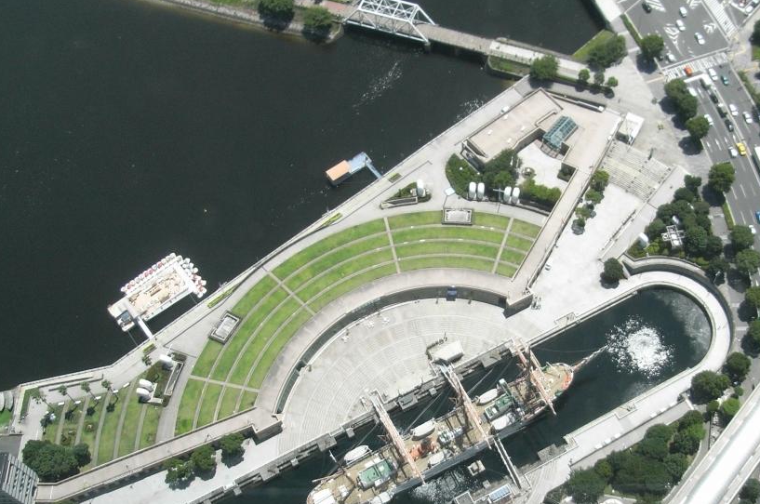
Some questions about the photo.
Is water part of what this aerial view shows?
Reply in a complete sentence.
Yes, water shows up in the scene.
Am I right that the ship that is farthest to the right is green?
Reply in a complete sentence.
No, the color of the ship that is farthest to the right is white.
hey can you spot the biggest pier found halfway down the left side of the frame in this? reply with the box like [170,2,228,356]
[108,262,199,332]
